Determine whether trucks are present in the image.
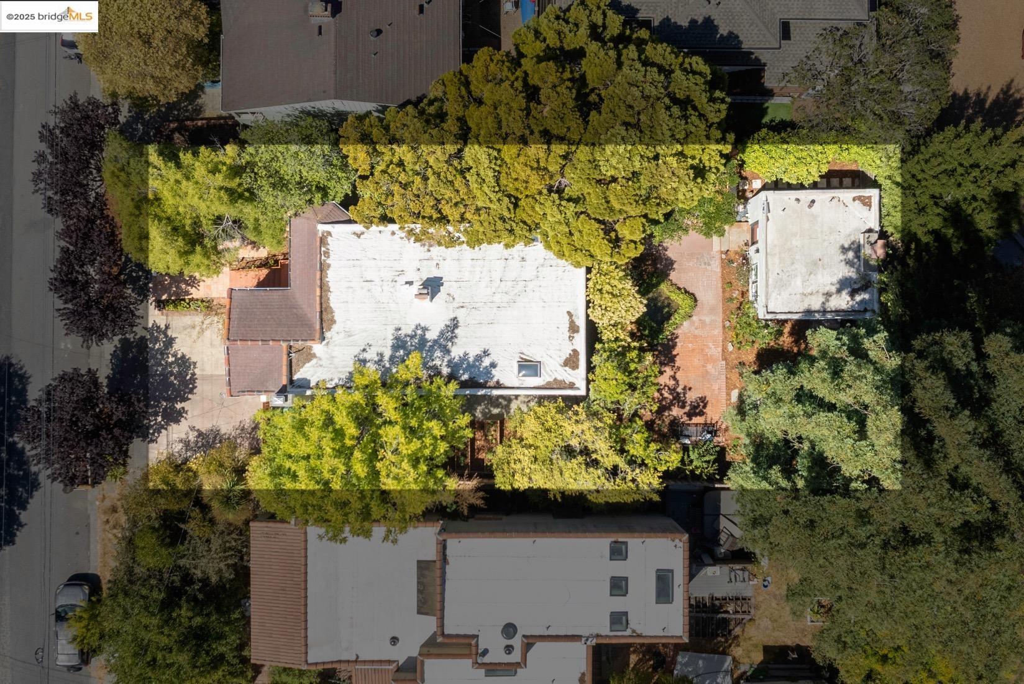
No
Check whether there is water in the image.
No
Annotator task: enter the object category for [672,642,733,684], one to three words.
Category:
tent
